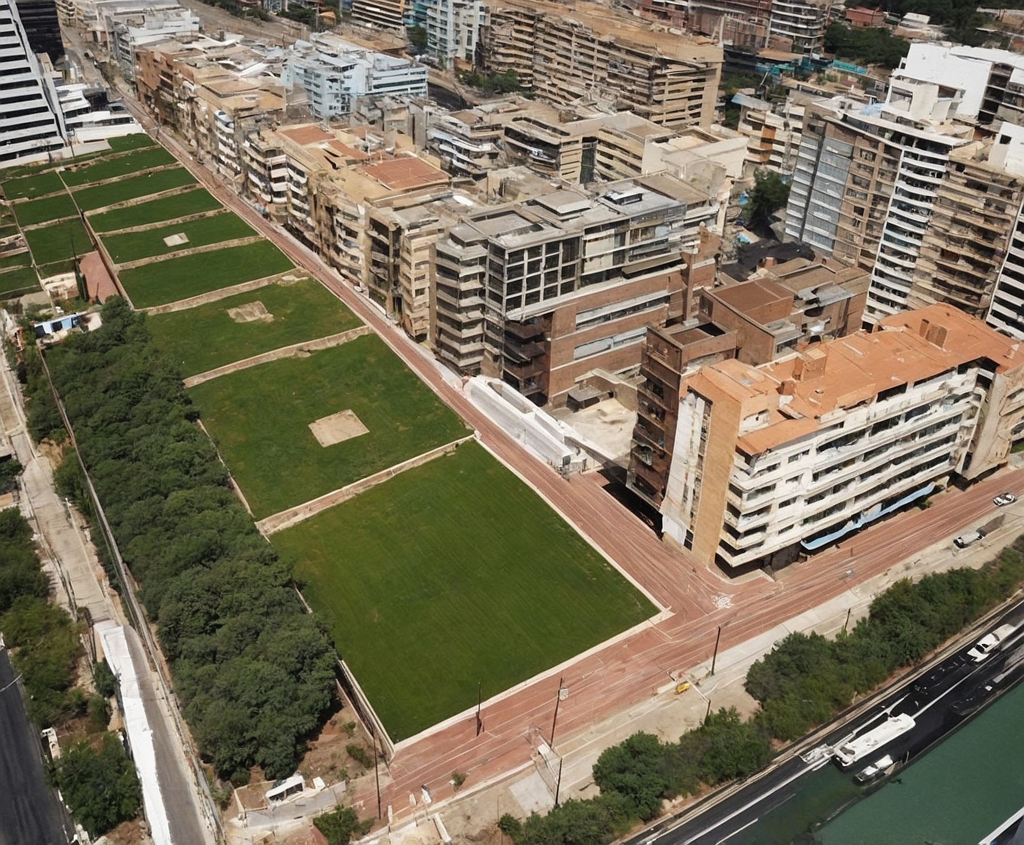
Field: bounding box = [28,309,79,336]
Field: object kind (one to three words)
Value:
shed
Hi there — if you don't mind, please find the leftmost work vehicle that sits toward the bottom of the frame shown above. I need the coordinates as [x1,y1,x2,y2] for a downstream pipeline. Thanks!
[676,683,691,699]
